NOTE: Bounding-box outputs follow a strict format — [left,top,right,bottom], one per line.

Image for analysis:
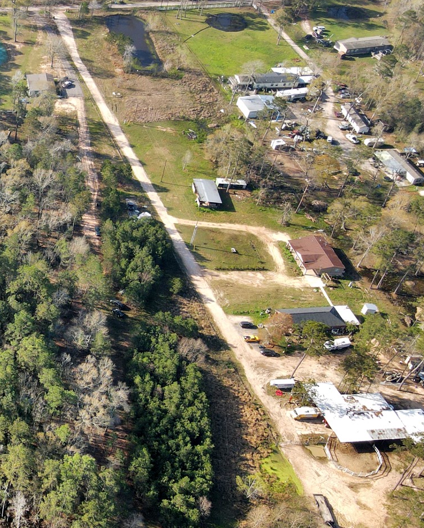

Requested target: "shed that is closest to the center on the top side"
[191,179,222,208]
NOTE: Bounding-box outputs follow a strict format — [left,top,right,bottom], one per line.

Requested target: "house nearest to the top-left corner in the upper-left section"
[27,73,55,98]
